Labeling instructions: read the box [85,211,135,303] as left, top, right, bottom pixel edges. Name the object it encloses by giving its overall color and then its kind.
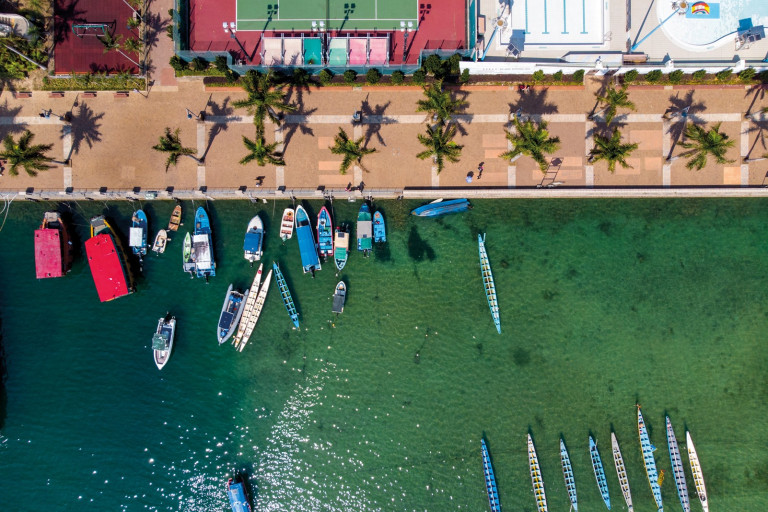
red boat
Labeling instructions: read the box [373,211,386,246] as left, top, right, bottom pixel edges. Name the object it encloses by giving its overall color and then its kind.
blue boat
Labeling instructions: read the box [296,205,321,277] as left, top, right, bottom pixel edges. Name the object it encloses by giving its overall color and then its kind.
blue boat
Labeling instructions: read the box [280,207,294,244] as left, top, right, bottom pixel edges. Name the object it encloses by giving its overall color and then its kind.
white boat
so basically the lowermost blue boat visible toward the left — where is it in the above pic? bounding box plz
[228,472,252,512]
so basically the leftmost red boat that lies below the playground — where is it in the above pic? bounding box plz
[35,208,75,280]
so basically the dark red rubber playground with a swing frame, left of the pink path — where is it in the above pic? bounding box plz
[49,0,145,77]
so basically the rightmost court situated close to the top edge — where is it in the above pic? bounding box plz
[180,0,469,68]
